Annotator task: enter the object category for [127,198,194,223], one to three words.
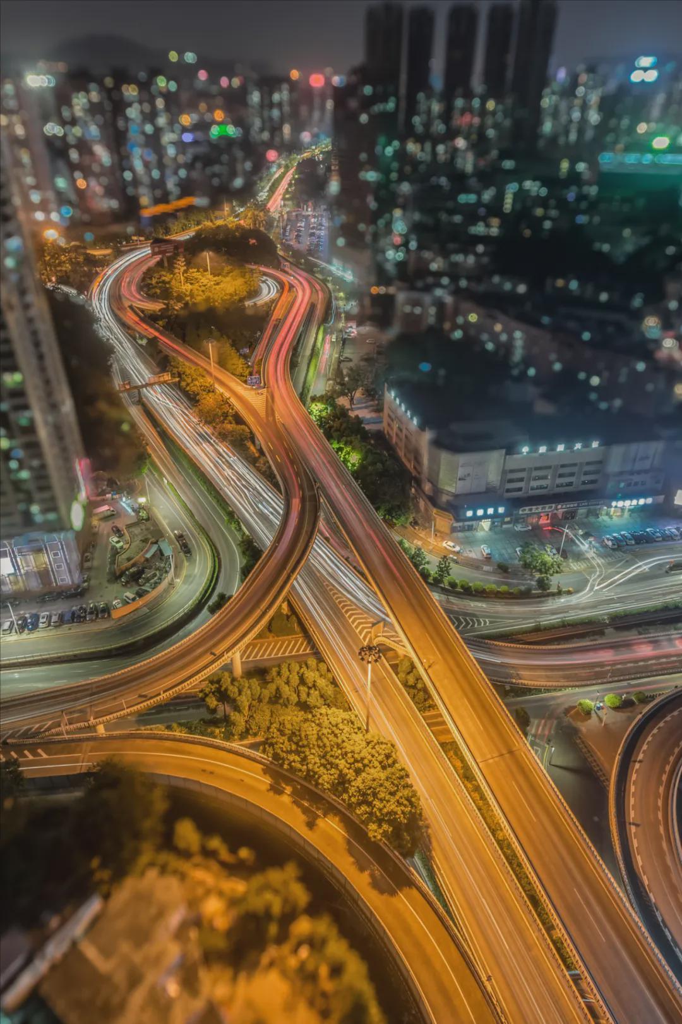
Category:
building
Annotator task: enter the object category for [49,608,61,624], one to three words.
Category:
vehicle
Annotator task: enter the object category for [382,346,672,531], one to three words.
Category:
building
